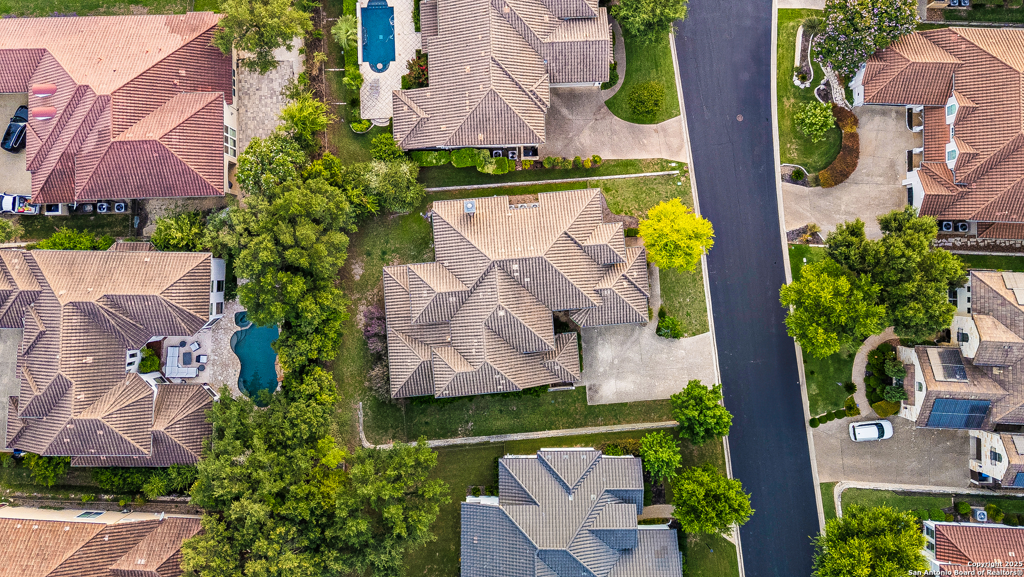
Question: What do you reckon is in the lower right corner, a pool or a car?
car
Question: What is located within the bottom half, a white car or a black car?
white car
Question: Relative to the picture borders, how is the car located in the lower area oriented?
from left to right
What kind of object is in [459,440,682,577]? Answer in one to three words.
house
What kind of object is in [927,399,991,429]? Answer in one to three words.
solar panel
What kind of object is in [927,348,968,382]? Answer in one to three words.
solar panel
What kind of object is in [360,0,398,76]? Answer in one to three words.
swimming pool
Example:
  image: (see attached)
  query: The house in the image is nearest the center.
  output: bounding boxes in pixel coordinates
[382,187,651,399]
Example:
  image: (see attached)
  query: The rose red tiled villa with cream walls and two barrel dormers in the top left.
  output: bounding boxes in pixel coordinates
[0,11,240,205]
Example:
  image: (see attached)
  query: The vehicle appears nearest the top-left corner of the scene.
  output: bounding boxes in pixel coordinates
[0,104,27,155]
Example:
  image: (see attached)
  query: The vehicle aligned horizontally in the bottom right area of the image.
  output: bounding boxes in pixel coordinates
[845,419,893,442]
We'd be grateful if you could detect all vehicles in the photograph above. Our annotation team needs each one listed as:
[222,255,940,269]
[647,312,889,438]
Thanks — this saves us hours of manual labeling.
[845,419,893,442]
[0,194,39,216]
[0,104,27,155]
